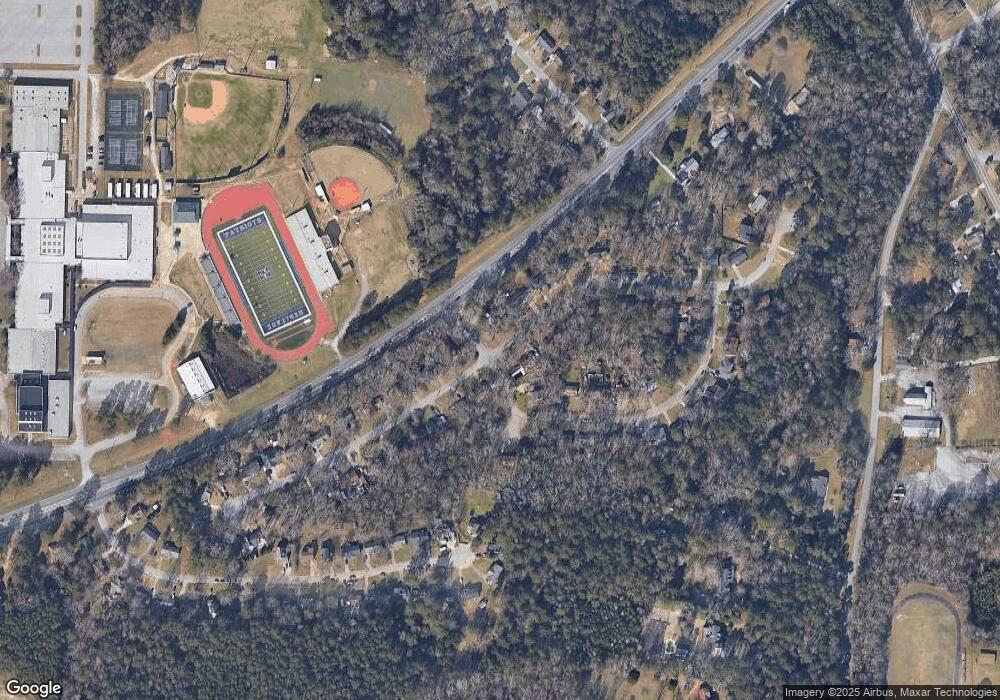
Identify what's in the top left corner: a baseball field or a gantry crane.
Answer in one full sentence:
You can see a baseball field in the top left corner.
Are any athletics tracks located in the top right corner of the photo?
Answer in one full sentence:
No, in the top right corner of the photo there is no athletics track.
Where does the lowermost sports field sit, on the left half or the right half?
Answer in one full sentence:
The lowermost sports field is on the right side of the image.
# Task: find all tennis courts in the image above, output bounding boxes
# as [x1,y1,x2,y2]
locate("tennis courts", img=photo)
[109,139,120,164]
[126,100,137,125]
[125,139,138,164]
[110,100,121,125]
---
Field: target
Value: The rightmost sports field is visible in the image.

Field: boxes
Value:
[896,597,956,700]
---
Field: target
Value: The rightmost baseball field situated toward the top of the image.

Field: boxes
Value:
[311,145,394,213]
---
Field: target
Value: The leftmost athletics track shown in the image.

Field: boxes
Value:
[202,182,334,361]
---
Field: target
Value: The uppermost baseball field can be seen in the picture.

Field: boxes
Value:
[176,72,287,179]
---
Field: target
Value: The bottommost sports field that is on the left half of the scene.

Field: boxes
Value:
[209,204,317,346]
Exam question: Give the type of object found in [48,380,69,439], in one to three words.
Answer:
building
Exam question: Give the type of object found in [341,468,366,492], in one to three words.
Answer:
house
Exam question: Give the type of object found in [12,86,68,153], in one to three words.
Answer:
building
